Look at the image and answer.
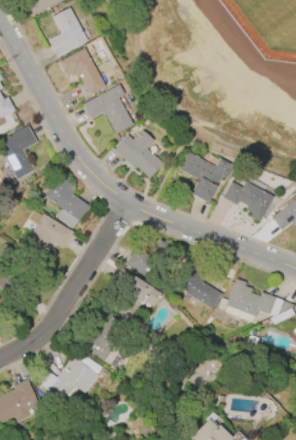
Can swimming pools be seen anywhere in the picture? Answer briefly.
Yes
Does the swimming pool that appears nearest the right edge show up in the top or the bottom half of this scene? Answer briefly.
bottom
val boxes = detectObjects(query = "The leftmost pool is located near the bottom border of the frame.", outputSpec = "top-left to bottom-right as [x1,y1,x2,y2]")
[110,403,128,422]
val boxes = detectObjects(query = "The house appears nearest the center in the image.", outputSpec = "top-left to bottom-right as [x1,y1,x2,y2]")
[128,254,151,274]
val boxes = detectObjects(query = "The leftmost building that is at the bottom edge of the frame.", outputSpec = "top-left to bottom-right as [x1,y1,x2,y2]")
[0,382,37,420]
